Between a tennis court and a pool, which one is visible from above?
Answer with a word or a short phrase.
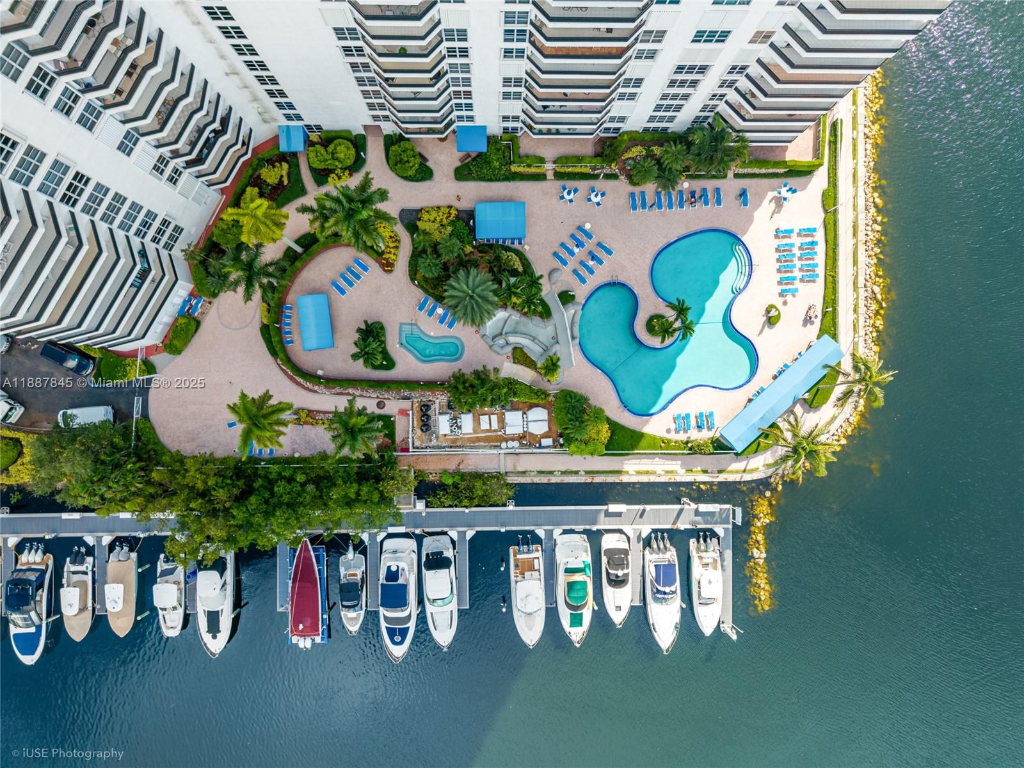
pool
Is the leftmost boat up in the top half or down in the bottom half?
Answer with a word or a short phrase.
bottom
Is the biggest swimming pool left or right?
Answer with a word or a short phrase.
right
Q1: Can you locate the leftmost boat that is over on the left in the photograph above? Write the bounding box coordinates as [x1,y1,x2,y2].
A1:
[9,537,64,667]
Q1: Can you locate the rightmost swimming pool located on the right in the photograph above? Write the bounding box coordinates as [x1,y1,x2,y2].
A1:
[577,225,763,419]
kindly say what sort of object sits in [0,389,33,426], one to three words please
truck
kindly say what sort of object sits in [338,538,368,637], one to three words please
boat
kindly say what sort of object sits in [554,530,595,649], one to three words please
boat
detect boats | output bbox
[290,538,327,649]
[108,539,145,640]
[640,531,682,657]
[509,529,548,650]
[599,531,633,630]
[554,530,595,649]
[155,540,189,640]
[338,538,368,637]
[686,524,724,639]
[196,543,241,660]
[9,537,64,667]
[378,531,421,666]
[64,541,100,644]
[421,530,460,652]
